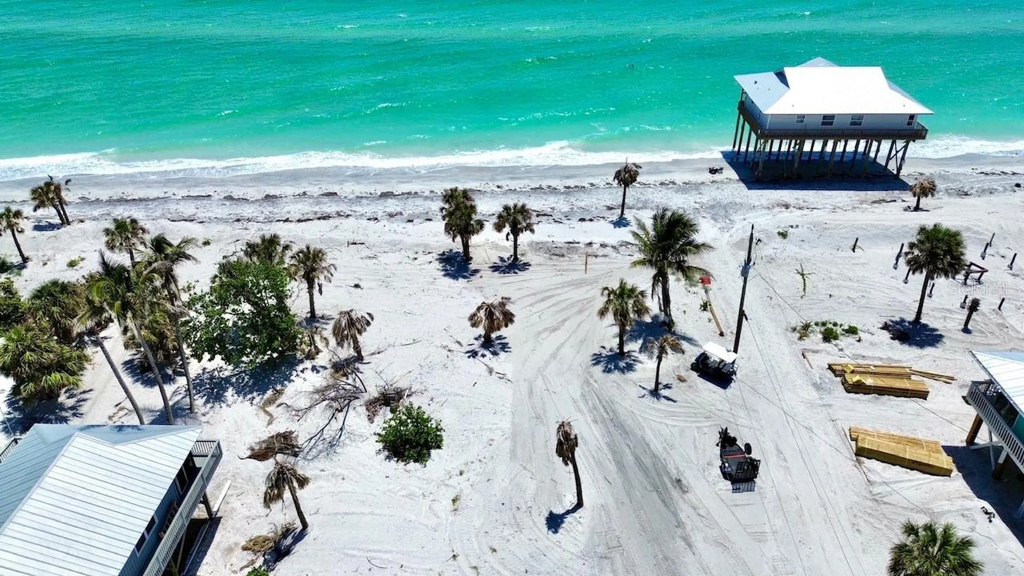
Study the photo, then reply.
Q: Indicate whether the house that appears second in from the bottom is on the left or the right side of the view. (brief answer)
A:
right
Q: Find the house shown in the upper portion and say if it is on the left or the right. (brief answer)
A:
right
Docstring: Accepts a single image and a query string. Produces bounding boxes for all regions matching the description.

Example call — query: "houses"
[951,349,1024,482]
[0,422,227,576]
[729,57,936,180]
